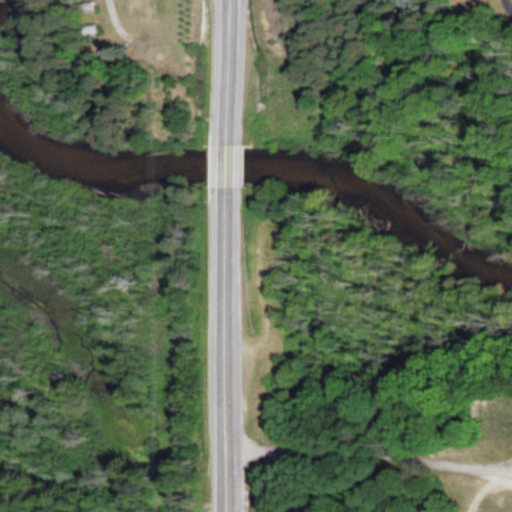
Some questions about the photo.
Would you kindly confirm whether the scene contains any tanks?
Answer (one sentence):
No, no tank is visible in the scene.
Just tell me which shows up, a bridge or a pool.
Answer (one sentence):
The image shows a bridge.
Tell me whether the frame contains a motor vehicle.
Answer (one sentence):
No, there appears to be no motor vehicle in this shot.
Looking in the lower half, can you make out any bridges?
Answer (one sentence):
No, looking in the lower half, there is no bridge.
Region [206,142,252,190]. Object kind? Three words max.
bridge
